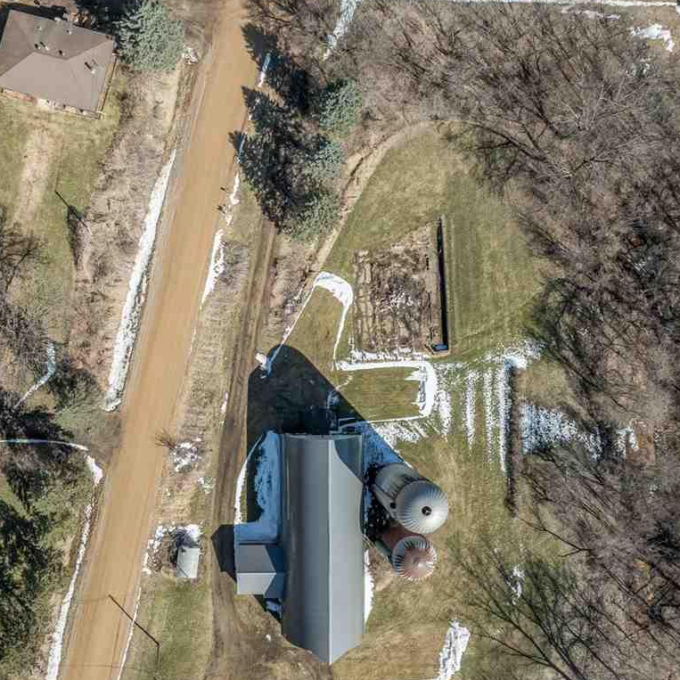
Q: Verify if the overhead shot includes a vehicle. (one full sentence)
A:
No, there's no vehicle here.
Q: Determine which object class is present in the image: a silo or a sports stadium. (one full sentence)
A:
The image shows a silo.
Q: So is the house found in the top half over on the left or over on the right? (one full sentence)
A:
You can find the house found in the top half on the left side of the picture.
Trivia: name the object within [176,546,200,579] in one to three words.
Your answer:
shed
